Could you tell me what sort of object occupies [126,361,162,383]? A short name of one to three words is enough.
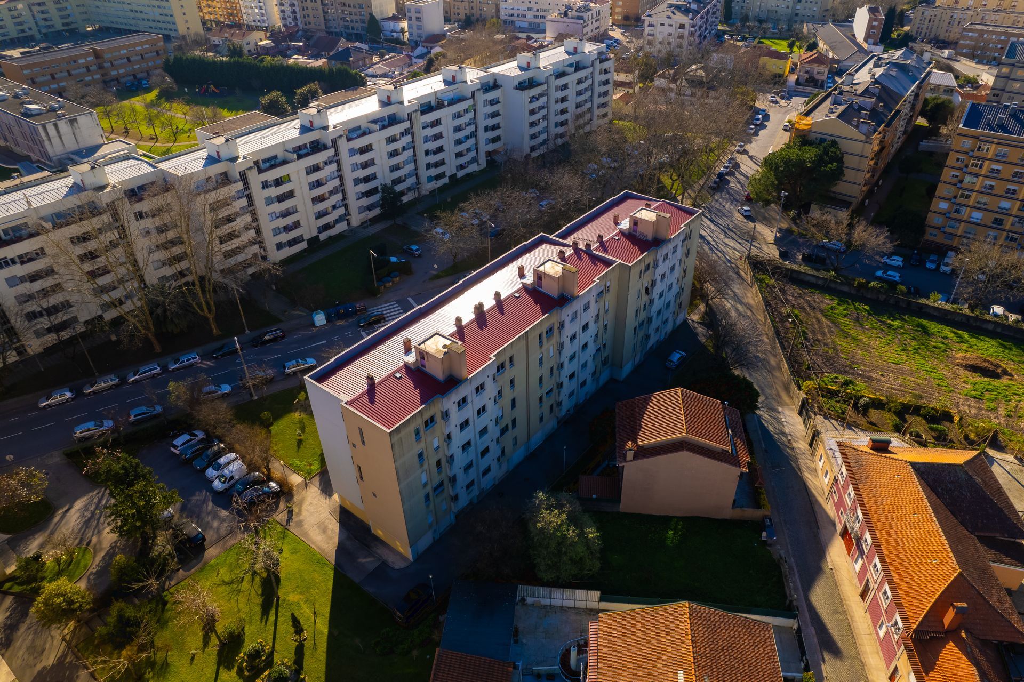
car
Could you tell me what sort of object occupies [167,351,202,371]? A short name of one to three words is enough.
car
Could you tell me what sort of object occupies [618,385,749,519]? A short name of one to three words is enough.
house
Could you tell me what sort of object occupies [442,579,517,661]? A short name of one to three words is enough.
shed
